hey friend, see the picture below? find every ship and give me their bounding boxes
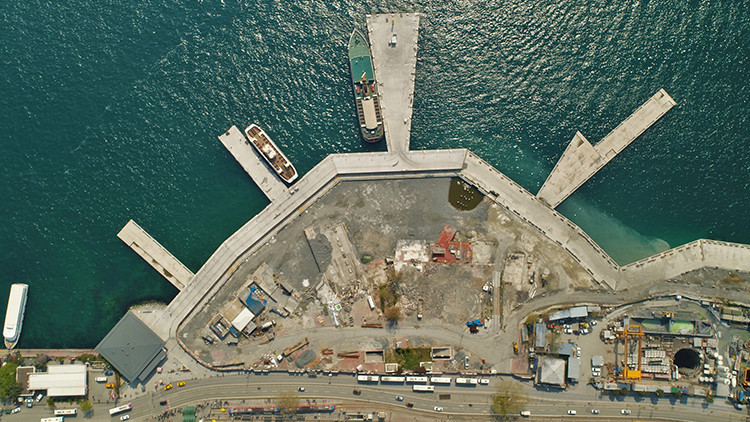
[349,29,382,144]
[4,281,31,348]
[245,123,300,185]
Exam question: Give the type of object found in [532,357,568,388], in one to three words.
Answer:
building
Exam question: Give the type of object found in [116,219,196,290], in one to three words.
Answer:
pier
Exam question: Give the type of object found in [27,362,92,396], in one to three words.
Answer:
building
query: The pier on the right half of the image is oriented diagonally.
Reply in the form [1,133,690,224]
[536,89,676,209]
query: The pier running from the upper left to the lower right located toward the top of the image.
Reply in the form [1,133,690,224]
[218,125,289,202]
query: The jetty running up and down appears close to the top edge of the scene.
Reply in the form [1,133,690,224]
[366,12,420,152]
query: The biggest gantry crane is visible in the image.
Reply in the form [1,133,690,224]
[613,316,644,380]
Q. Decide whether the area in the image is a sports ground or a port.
port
